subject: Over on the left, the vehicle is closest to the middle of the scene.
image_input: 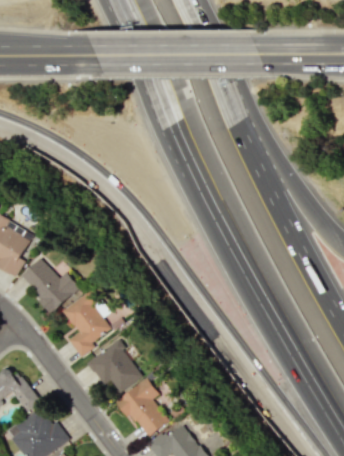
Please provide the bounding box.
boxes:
[108,175,124,190]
